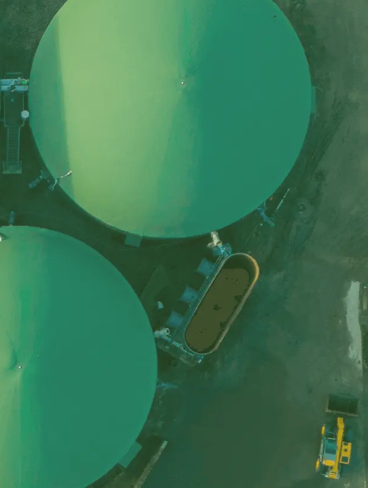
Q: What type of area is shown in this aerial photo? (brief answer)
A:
industrial area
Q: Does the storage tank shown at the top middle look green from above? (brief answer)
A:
Yes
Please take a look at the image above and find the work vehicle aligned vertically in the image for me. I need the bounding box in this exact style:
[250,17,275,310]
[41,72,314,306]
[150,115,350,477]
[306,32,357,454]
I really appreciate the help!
[315,395,361,482]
